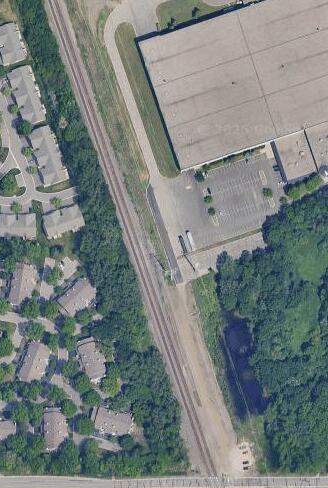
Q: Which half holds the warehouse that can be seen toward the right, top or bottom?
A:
top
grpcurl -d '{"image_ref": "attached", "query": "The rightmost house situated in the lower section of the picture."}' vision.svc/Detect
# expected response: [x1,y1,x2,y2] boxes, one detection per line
[93,405,137,437]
